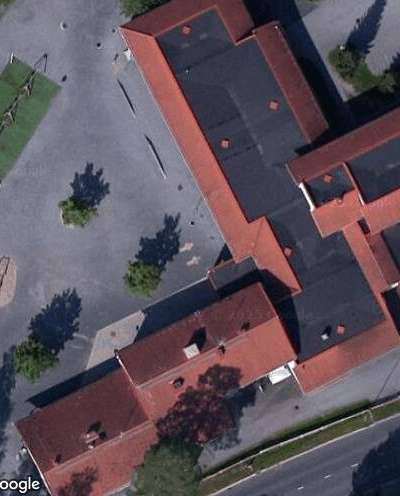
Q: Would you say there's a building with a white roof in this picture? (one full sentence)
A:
No, no building with a white roof is visible in the scene.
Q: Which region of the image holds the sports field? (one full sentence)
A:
You can find the sports field in the top left area of the picture.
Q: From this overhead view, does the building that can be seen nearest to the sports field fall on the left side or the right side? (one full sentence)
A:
You can find the building that can be seen nearest to the sports field on the right side of the picture.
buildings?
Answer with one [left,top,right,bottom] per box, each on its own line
[15,281,297,496]
[121,0,400,395]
